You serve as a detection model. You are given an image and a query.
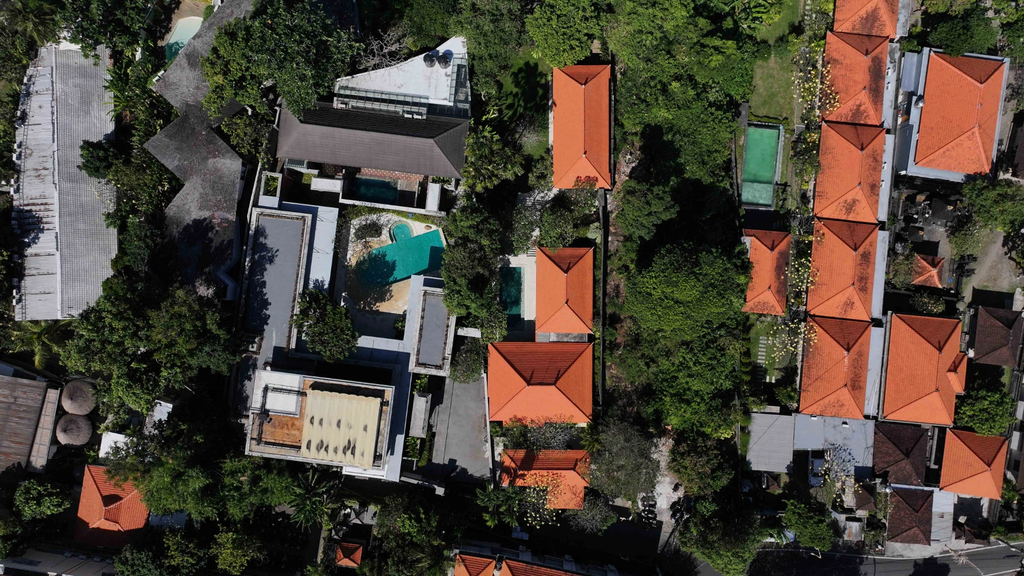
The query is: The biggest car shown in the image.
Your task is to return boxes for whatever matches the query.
[809,458,825,487]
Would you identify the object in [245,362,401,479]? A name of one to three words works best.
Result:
building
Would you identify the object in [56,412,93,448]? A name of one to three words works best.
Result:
umbrella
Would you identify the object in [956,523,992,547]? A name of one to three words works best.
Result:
house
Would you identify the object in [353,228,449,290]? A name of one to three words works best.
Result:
swimming pool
